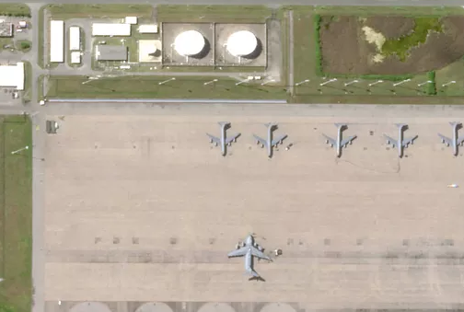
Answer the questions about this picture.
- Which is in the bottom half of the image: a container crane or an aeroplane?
aeroplane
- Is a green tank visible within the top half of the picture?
No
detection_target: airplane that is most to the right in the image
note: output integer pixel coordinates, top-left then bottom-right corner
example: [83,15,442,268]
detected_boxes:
[438,121,464,157]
